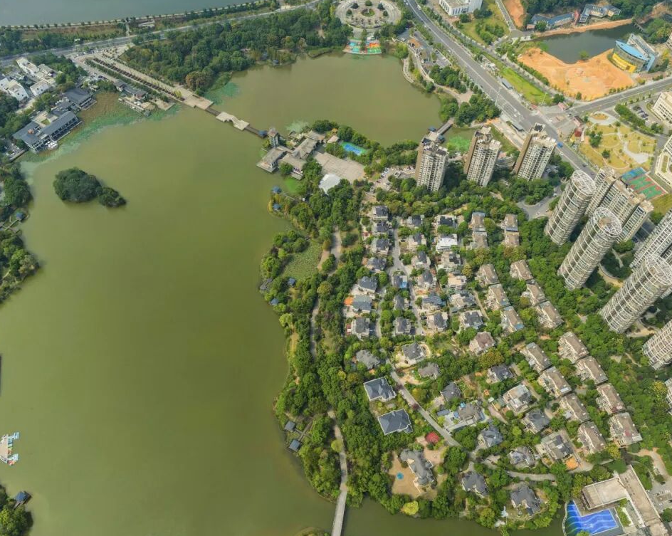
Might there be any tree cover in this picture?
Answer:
Yes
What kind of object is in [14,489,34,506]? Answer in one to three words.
gazebo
